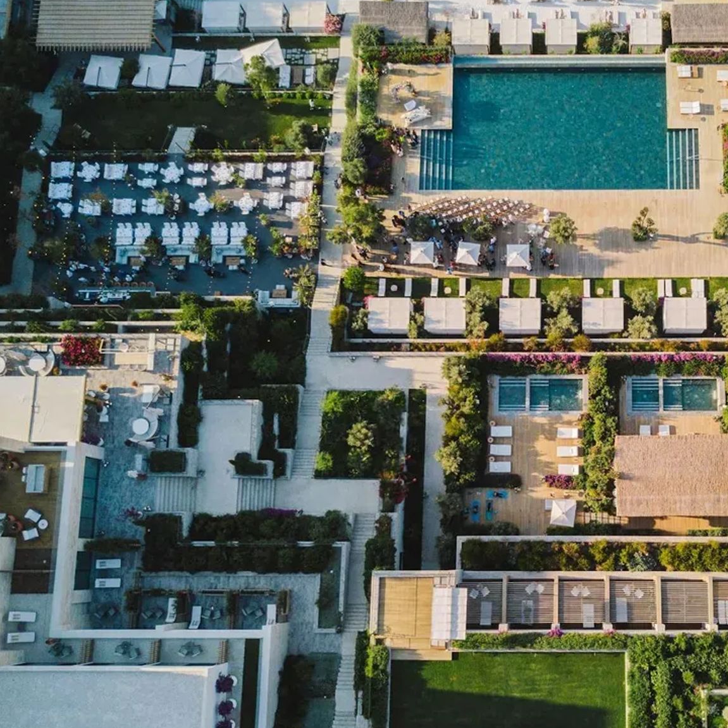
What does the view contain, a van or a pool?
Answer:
pool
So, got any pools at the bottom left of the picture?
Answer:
No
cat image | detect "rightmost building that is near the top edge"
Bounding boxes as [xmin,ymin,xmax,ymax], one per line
[672,2,728,47]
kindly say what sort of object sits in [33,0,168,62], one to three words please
building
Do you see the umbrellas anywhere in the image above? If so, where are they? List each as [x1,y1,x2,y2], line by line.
[506,245,530,269]
[83,56,126,106]
[170,53,207,102]
[134,57,173,106]
[549,499,577,528]
[455,242,481,267]
[245,39,288,75]
[410,241,435,266]
[211,52,248,87]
